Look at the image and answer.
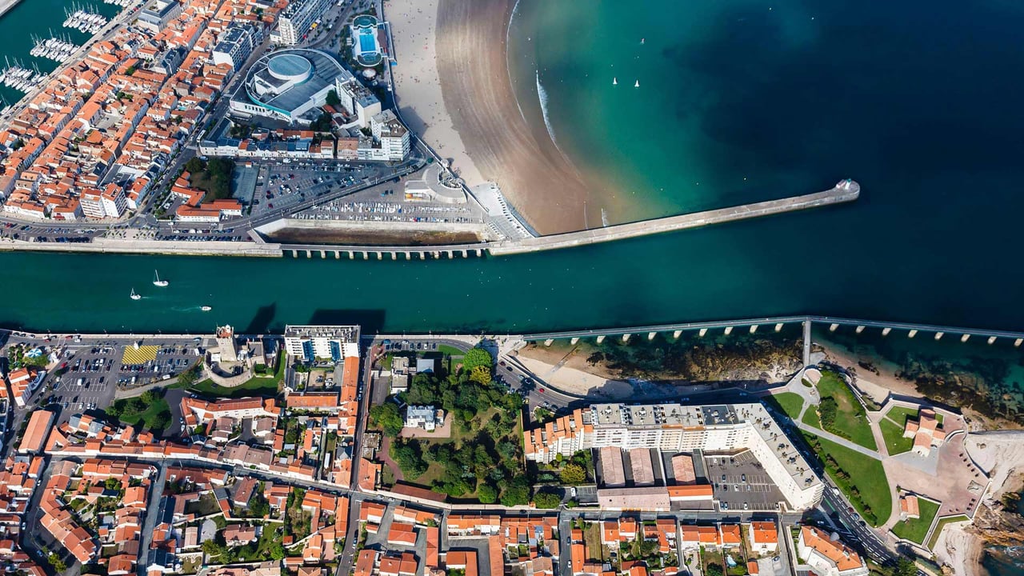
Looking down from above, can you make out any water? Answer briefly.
Yes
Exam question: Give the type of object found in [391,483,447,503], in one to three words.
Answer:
shed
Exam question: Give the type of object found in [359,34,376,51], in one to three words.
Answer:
swimming pool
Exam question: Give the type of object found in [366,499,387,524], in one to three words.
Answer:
house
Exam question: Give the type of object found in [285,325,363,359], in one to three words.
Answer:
building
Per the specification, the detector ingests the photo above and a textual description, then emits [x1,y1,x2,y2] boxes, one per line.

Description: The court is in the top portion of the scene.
[232,164,260,205]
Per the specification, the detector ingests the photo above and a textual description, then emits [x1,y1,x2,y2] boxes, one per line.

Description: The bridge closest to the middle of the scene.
[276,240,492,258]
